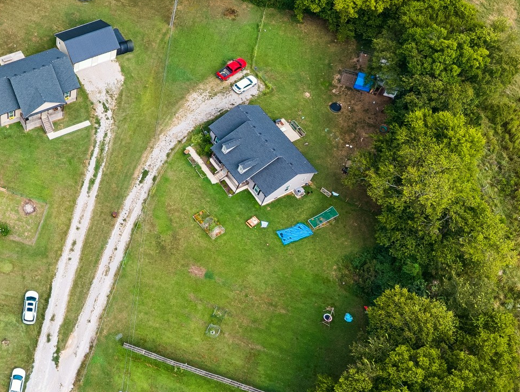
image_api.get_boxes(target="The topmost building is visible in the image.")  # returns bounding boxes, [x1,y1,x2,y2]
[55,19,121,72]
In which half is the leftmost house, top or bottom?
top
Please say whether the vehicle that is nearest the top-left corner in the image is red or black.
red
